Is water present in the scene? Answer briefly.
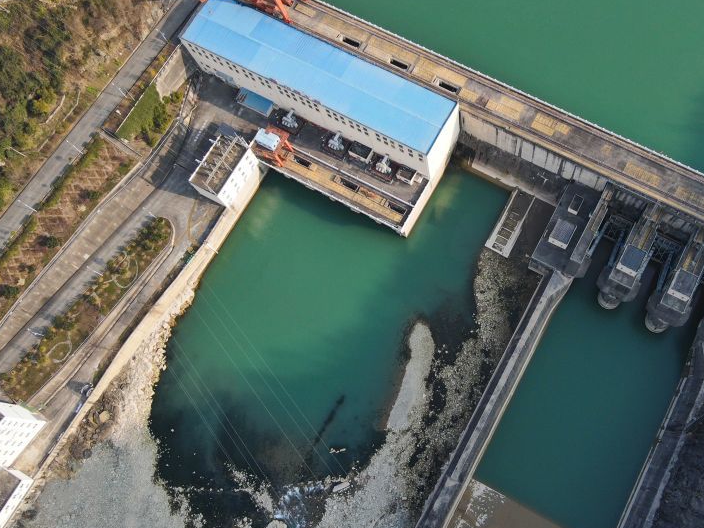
Yes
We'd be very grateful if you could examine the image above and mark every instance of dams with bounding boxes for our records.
[229,0,704,300]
